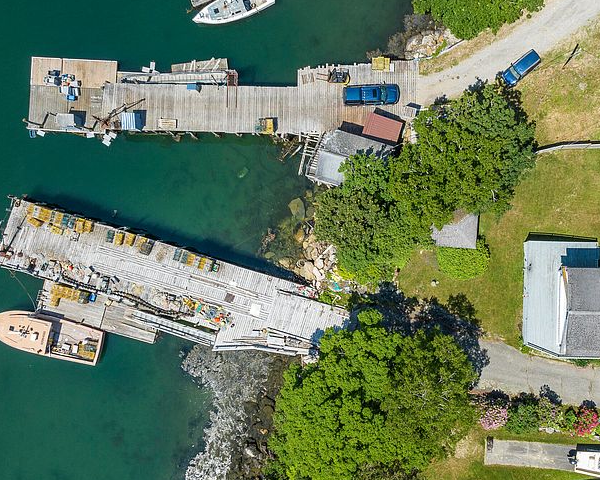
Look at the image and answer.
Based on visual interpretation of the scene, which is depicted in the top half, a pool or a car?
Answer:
car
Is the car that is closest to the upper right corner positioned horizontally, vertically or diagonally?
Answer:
diagonally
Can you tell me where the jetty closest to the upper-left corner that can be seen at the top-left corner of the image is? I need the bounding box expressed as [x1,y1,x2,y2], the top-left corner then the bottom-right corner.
[29,56,63,87]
